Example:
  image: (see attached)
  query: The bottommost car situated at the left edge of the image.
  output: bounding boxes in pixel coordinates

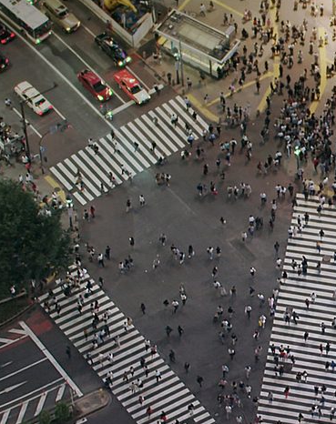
[15,80,52,109]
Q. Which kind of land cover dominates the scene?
paved ground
